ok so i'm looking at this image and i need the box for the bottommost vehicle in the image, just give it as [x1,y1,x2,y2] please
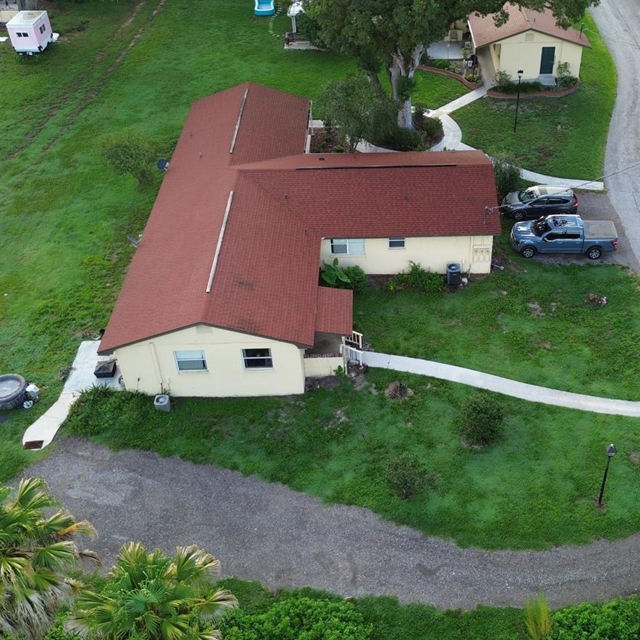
[509,211,620,256]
